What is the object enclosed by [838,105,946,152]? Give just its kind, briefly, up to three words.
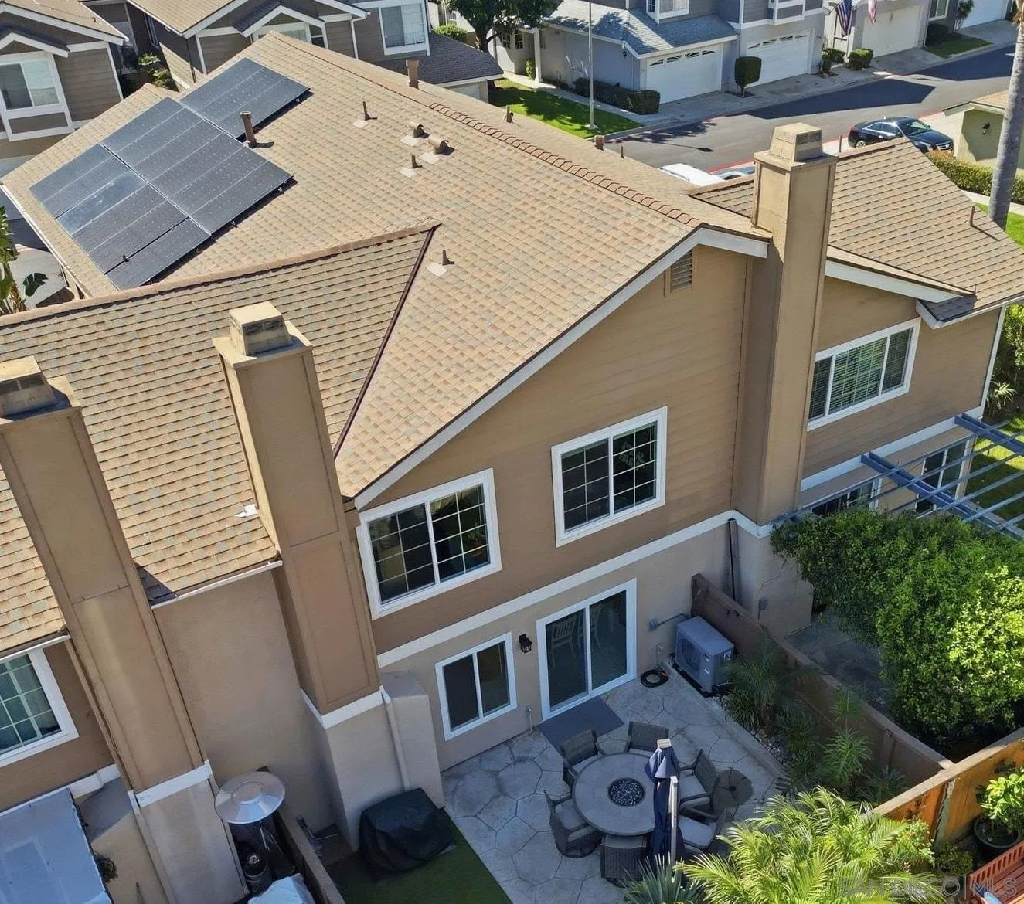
car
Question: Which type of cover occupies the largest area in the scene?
buildings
